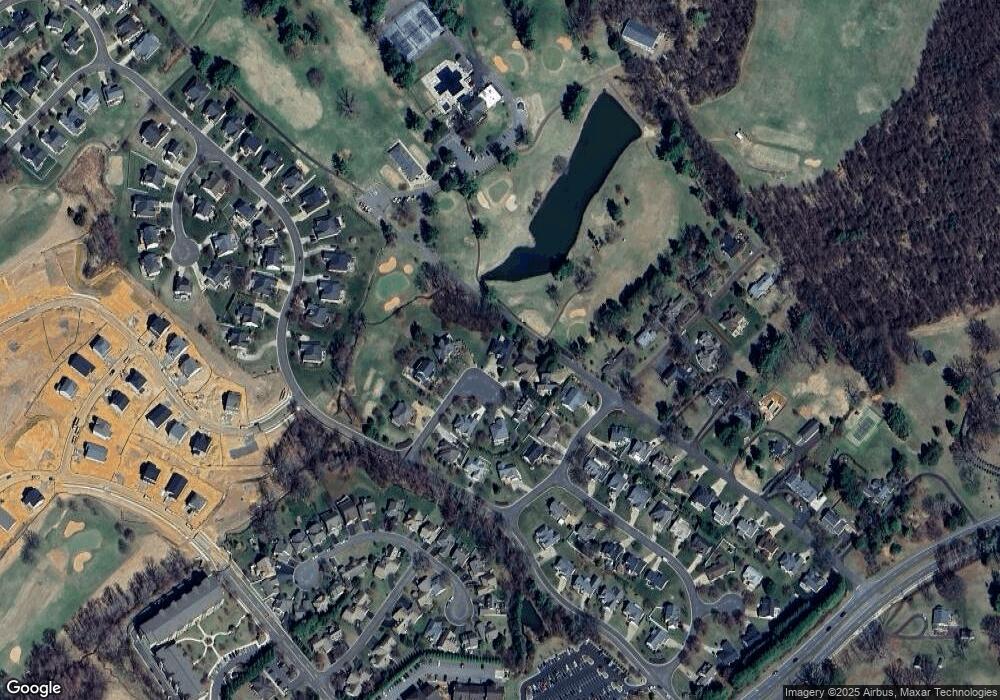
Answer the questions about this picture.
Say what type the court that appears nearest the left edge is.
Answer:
tennis court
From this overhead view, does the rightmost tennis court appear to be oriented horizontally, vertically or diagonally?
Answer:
diagonally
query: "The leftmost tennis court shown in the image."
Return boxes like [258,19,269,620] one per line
[380,2,443,60]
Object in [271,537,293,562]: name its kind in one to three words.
house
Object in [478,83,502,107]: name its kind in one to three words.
building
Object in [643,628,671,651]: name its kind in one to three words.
house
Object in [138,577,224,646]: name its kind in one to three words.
building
